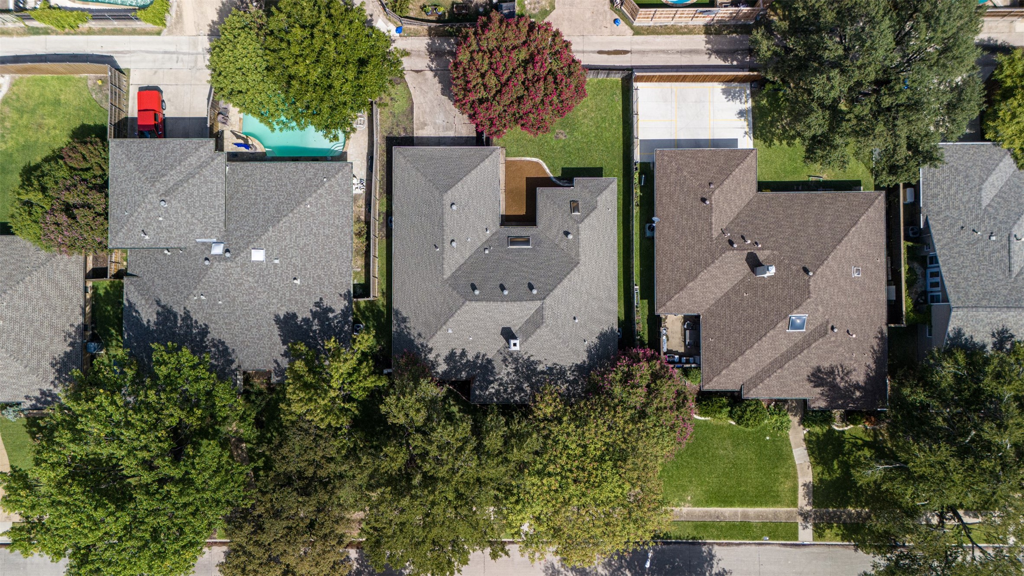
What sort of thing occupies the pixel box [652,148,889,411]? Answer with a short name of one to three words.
house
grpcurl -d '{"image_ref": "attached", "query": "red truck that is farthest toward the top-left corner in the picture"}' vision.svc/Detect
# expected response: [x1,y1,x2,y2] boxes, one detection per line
[136,92,168,137]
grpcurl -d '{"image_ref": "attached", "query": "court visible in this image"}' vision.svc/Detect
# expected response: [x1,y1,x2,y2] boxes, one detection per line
[637,81,753,162]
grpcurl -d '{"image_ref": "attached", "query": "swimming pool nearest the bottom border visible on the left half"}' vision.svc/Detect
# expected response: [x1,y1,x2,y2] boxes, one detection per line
[238,88,351,161]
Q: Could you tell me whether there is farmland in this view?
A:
No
